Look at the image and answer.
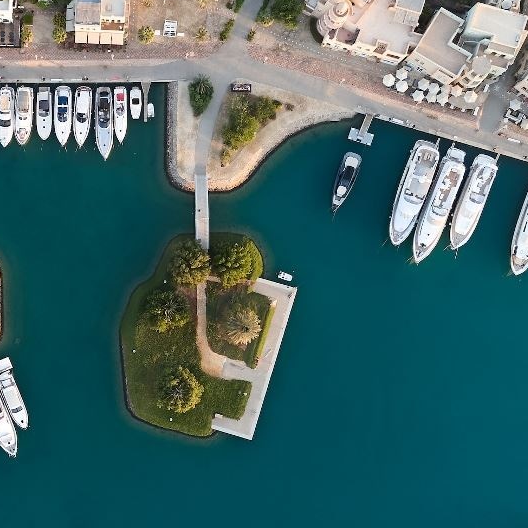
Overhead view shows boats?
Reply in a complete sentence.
Yes, there's a boat down there.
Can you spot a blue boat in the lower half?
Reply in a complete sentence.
No, the scene shows no blue boat in the lower half.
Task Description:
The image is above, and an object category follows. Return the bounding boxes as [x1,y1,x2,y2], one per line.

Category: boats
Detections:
[36,87,52,140]
[95,86,114,161]
[330,152,360,212]
[0,388,17,456]
[407,153,464,273]
[55,86,72,154]
[446,148,494,257]
[389,137,437,247]
[509,185,528,274]
[0,372,30,432]
[0,78,15,147]
[148,104,155,119]
[113,87,127,150]
[73,86,92,154]
[129,89,142,121]
[279,272,293,282]
[448,150,464,159]
[14,78,33,147]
